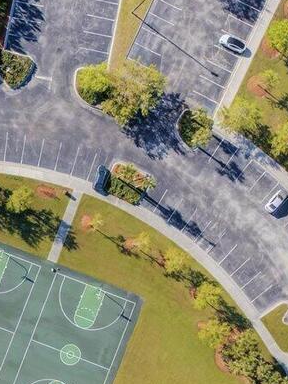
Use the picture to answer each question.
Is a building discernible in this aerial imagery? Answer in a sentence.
No, I can see no building in this picture.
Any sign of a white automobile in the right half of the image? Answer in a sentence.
Yes, I can see a white automobile in the right half of the image.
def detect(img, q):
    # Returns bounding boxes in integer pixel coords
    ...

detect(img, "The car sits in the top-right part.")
[218,34,246,53]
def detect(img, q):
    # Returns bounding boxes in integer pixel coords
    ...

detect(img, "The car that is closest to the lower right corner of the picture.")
[263,189,288,214]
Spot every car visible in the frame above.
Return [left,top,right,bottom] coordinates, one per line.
[263,189,288,214]
[218,34,246,53]
[94,165,111,193]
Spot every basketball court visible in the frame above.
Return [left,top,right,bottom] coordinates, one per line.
[0,243,50,384]
[4,263,143,384]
